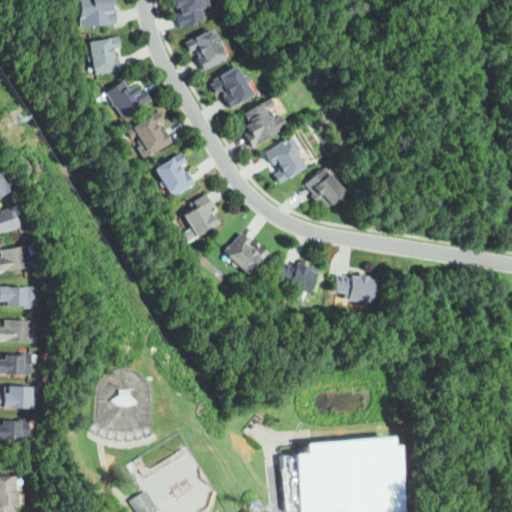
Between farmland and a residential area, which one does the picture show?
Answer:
residential area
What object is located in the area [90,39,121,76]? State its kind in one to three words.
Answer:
house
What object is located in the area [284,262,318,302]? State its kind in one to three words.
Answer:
house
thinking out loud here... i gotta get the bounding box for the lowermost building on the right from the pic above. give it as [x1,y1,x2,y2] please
[280,436,408,512]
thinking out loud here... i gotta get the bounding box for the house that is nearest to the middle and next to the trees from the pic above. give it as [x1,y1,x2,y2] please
[226,234,270,274]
